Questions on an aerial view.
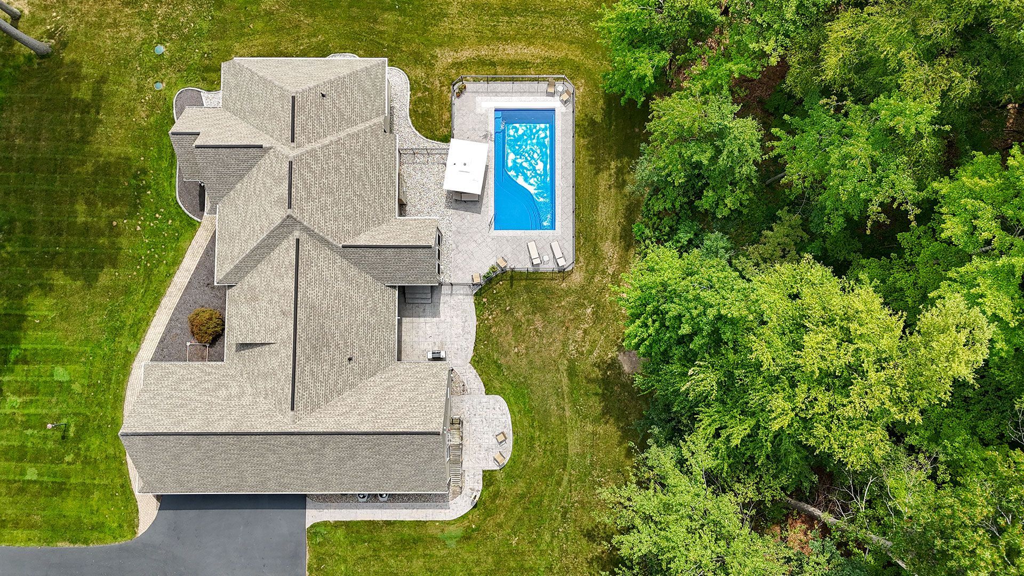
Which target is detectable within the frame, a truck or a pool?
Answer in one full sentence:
This aerial view contains a pool.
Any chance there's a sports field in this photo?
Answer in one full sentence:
No, there's no sports field here.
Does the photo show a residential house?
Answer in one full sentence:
Yes, there's a residential house here.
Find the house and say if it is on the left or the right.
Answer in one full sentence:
The house is on the left side of the image.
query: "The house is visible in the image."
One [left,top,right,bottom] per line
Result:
[119,57,454,497]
